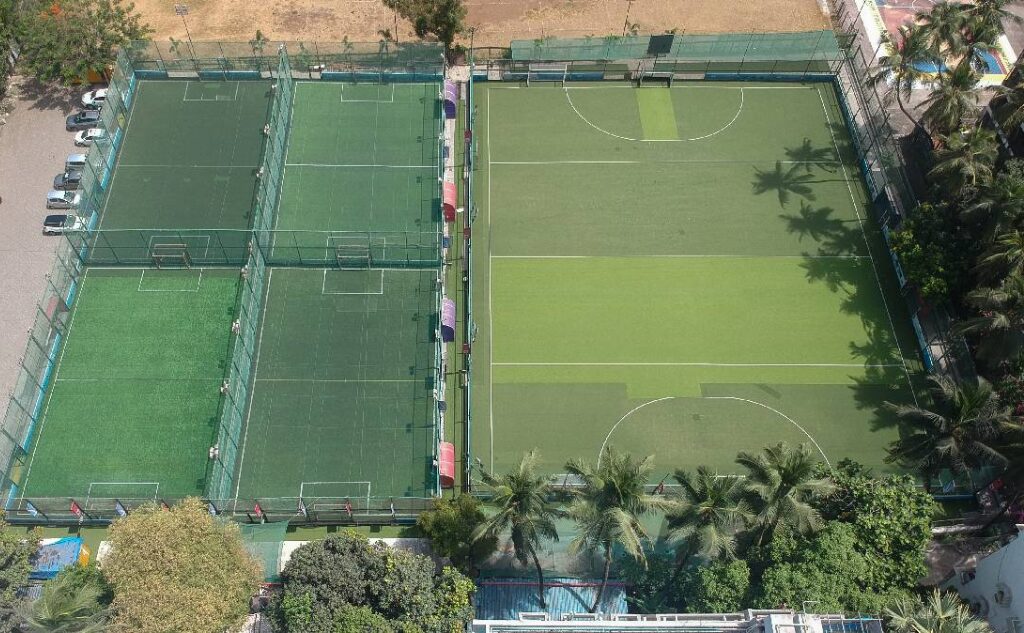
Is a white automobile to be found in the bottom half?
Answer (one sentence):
No, no white automobile appears in the bottom half.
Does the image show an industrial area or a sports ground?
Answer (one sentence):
What you see here is a sports ground.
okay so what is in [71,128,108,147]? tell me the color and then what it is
white car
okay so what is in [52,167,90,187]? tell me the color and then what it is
gray car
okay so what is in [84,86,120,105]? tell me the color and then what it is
white car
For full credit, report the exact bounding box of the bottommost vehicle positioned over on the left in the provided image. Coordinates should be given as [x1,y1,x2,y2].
[39,216,84,237]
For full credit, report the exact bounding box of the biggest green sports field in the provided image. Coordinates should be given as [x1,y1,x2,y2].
[471,78,977,507]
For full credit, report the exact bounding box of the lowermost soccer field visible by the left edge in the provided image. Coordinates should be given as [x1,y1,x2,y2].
[7,266,266,520]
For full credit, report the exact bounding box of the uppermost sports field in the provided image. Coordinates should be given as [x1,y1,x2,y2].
[0,0,832,48]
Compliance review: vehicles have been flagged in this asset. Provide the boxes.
[39,216,84,237]
[43,190,84,210]
[52,167,90,187]
[84,86,120,105]
[71,128,108,147]
[64,149,102,168]
[67,107,108,128]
